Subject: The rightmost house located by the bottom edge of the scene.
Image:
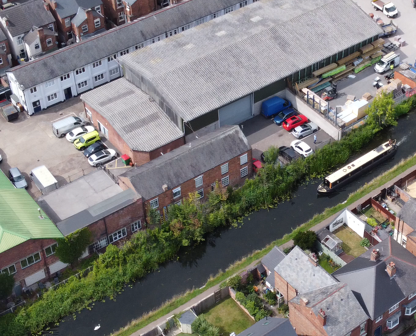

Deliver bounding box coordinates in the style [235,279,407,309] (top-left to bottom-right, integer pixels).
[339,234,416,336]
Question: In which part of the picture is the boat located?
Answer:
right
